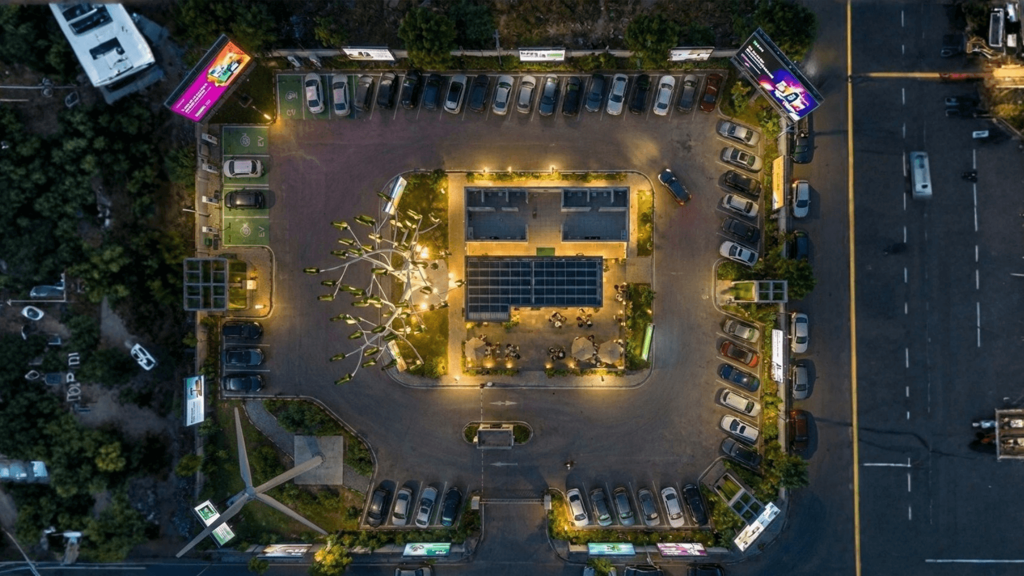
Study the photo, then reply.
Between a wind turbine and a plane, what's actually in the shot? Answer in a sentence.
This aerial view contains a wind turbine.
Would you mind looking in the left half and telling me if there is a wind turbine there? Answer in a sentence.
Yes, in the left half there is a wind turbine.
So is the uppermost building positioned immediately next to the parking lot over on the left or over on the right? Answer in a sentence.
It is on the left.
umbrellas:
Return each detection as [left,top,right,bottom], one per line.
[464,337,488,361]
[571,336,595,360]
[599,339,623,362]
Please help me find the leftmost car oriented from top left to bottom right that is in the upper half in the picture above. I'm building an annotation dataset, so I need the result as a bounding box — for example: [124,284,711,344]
[655,167,694,207]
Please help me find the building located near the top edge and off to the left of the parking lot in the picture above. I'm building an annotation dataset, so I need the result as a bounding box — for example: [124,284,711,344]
[51,0,180,103]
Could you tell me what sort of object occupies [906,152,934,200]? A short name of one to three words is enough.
vehicle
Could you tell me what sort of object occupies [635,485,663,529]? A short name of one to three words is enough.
car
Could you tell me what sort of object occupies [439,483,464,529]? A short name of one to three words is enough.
car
